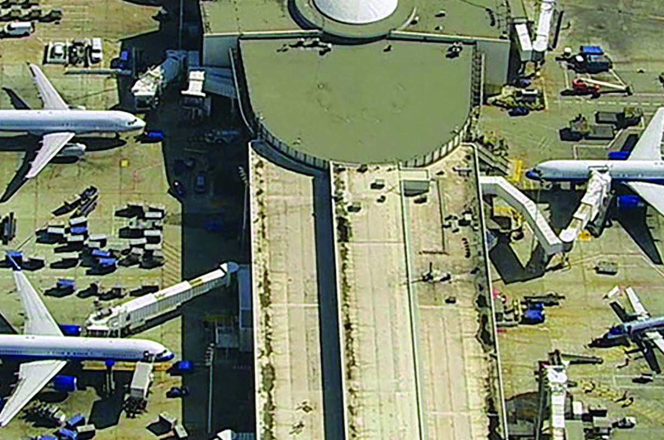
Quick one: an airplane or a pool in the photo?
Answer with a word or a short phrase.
airplane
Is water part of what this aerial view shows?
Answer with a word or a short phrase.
No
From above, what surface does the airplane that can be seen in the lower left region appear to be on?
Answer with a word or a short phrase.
apron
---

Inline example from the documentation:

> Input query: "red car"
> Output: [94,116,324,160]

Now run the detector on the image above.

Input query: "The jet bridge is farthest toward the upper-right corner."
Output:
[510,0,561,81]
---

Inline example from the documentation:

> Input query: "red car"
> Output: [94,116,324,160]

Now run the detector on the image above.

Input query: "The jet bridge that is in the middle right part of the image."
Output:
[480,170,611,274]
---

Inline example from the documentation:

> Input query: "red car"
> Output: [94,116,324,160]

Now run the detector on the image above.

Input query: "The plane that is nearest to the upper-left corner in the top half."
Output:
[0,62,145,178]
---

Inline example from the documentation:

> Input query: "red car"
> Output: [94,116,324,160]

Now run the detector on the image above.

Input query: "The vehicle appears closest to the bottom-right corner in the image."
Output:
[614,417,644,434]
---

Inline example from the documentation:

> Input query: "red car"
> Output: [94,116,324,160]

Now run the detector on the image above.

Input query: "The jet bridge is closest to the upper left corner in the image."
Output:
[130,47,200,111]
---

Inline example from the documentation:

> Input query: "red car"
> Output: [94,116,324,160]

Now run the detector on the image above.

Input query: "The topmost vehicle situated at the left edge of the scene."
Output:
[6,23,33,37]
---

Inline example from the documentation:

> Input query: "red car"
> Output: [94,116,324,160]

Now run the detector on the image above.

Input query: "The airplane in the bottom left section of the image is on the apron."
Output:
[0,259,174,421]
